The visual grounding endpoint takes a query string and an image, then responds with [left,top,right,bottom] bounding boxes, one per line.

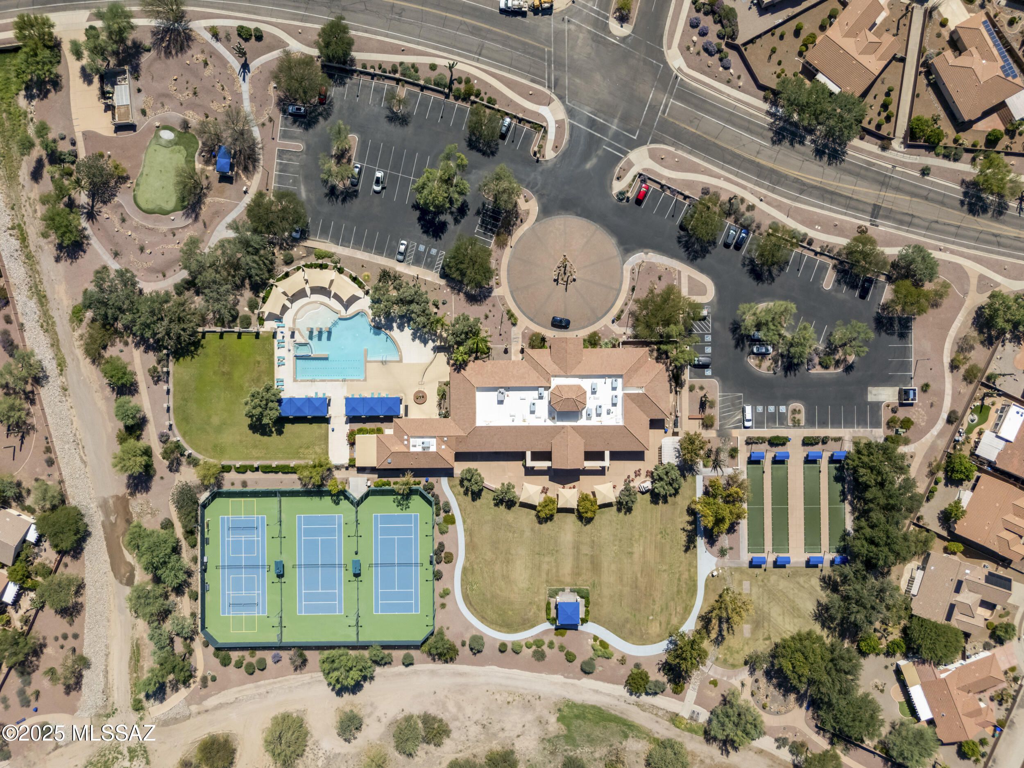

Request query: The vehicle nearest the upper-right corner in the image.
[858,278,871,299]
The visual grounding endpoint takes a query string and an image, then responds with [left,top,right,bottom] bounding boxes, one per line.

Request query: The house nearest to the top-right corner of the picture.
[926,11,1024,129]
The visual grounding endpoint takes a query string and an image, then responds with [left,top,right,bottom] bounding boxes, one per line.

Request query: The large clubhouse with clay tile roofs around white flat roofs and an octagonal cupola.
[356,337,670,469]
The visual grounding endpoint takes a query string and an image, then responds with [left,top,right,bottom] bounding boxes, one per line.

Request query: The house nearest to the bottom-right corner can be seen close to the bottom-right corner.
[894,649,1006,743]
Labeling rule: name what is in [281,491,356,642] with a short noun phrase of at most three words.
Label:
tennis court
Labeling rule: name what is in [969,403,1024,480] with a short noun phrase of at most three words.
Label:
house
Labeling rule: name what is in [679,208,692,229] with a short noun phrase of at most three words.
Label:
vehicle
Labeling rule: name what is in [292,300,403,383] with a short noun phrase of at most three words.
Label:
swimming pool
